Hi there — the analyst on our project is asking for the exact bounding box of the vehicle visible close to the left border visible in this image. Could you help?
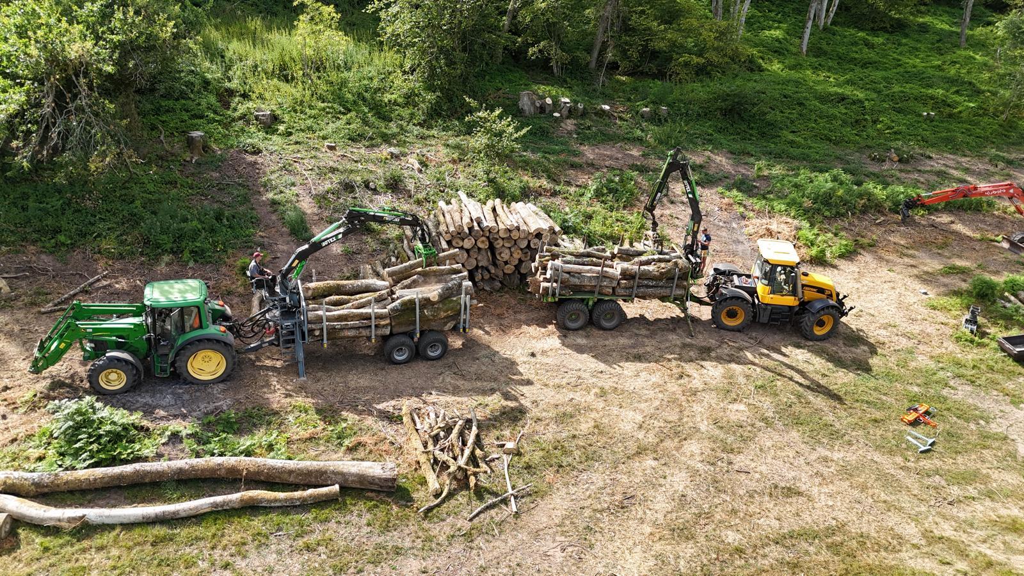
[21,275,251,393]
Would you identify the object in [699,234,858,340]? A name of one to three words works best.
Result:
work vehicle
